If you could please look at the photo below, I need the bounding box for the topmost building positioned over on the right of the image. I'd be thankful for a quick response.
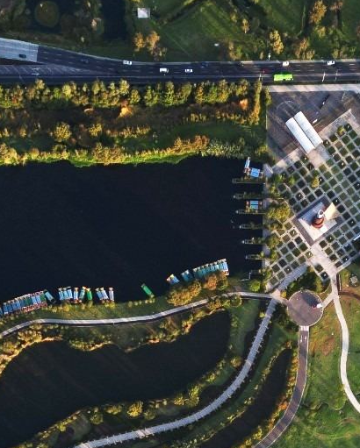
[284,108,329,152]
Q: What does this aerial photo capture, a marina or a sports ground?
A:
marina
